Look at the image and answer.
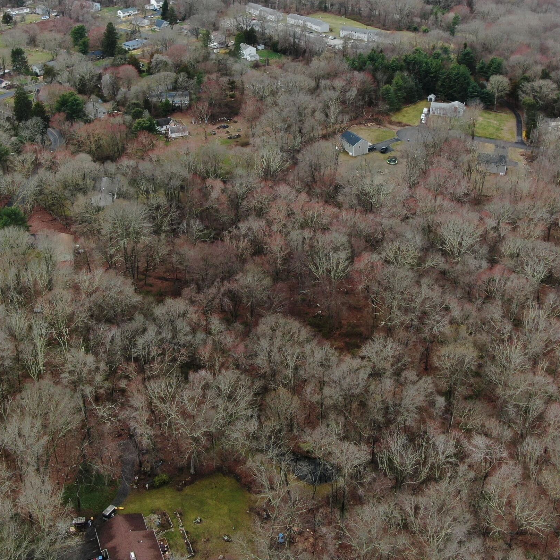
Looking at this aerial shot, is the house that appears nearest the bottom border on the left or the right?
left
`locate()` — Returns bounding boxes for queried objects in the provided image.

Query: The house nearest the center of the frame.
[327,124,370,156]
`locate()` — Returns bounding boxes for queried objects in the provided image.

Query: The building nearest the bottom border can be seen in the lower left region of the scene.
[95,510,180,560]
